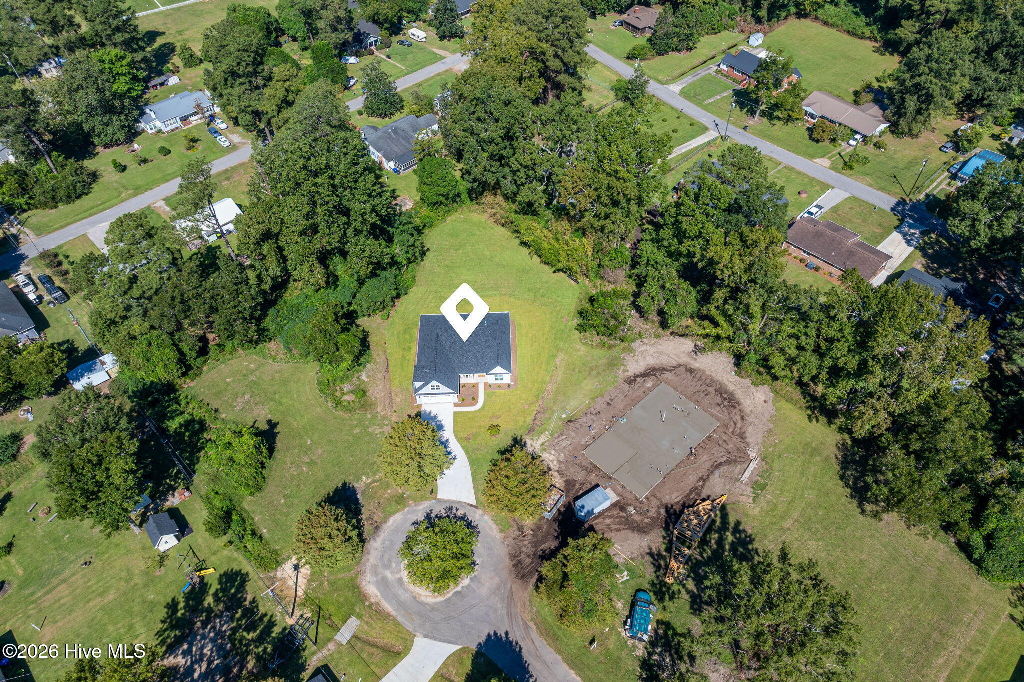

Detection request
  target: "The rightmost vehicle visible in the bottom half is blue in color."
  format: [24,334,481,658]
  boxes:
[627,591,656,646]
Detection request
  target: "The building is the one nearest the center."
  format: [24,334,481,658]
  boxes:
[409,312,513,404]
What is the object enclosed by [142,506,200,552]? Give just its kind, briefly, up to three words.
shed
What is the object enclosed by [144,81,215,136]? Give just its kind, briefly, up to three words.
house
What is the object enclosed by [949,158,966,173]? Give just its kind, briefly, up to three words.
car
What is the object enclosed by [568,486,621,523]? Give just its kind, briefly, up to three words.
trailer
